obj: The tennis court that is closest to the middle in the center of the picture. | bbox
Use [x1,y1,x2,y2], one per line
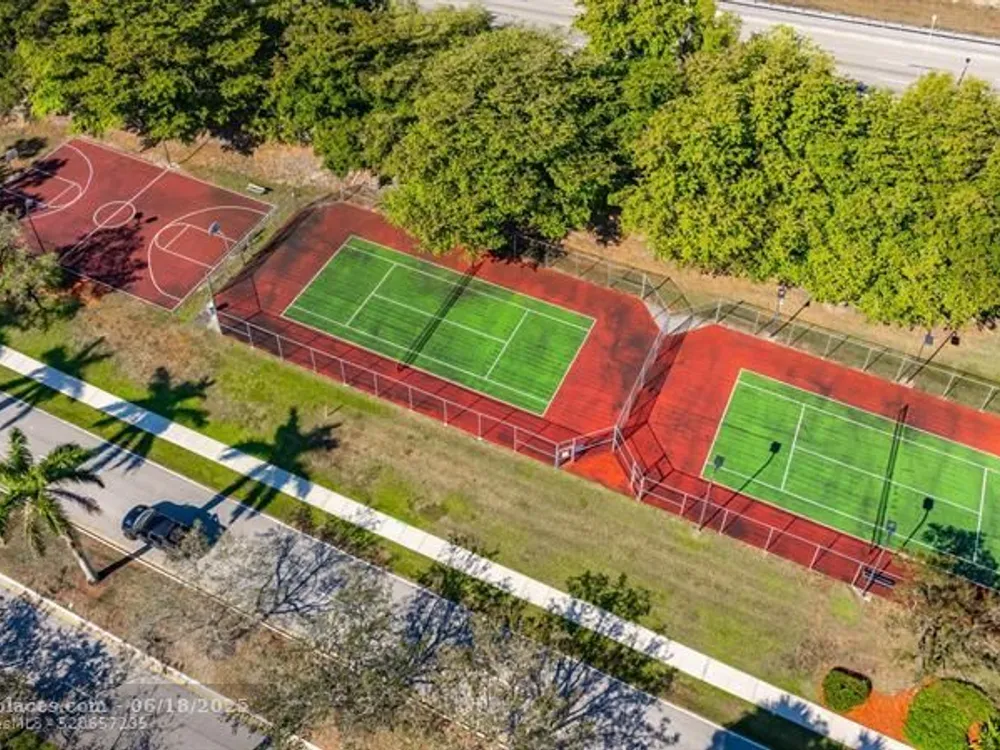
[215,198,664,482]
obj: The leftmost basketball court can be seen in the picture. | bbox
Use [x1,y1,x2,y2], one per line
[0,137,276,312]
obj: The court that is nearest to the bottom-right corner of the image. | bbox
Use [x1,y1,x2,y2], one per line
[596,323,1000,635]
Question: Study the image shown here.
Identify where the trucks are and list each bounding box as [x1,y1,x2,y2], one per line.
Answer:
[120,501,207,562]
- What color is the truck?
black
